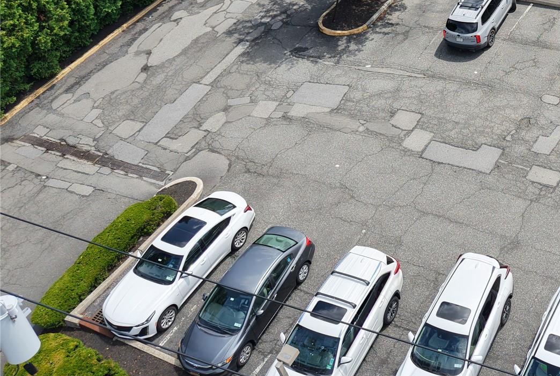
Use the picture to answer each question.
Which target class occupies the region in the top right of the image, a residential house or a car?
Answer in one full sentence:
It is a car that can be seen in the top right of the image.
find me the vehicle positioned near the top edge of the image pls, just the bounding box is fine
[440,0,518,55]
